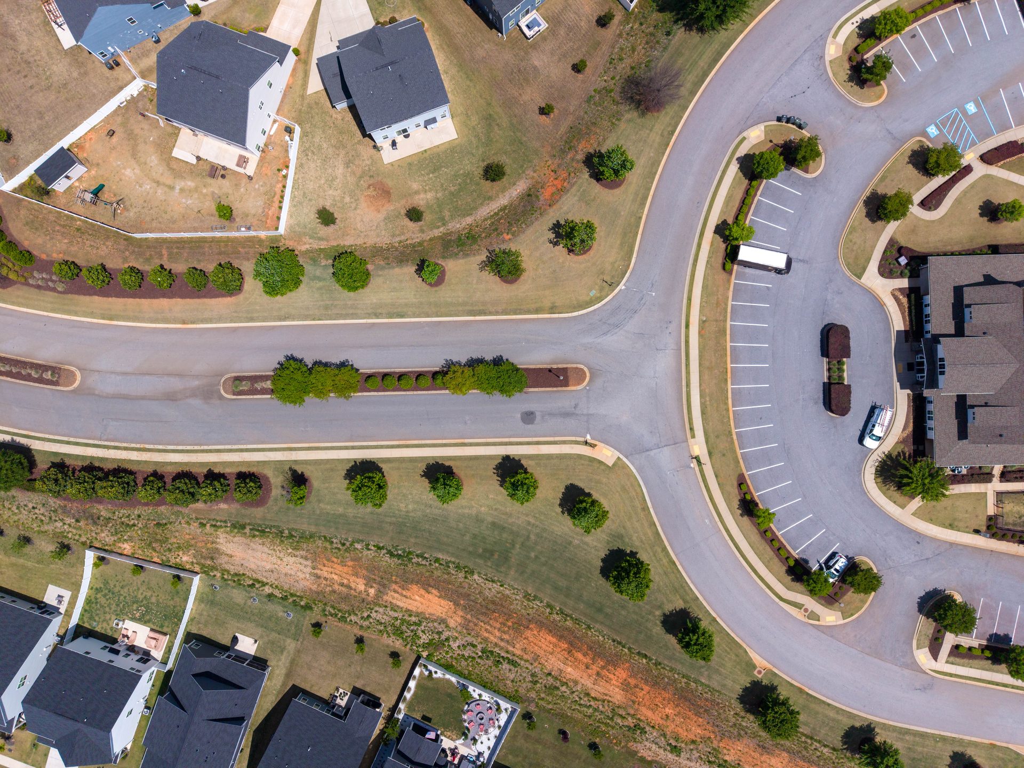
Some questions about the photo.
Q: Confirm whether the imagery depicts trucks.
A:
Yes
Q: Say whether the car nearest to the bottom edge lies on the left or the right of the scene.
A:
right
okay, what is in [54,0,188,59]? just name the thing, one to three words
house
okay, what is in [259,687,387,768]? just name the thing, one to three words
house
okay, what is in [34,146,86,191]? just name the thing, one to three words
shed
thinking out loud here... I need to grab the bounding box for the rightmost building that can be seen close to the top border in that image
[476,0,543,41]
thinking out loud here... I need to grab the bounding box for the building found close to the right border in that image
[908,253,1024,466]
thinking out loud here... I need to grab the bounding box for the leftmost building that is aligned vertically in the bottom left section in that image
[0,583,70,745]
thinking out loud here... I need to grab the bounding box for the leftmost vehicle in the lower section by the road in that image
[822,554,850,590]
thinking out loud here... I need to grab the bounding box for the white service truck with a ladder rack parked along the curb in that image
[863,405,897,450]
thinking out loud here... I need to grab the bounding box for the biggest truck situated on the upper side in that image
[730,244,788,272]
